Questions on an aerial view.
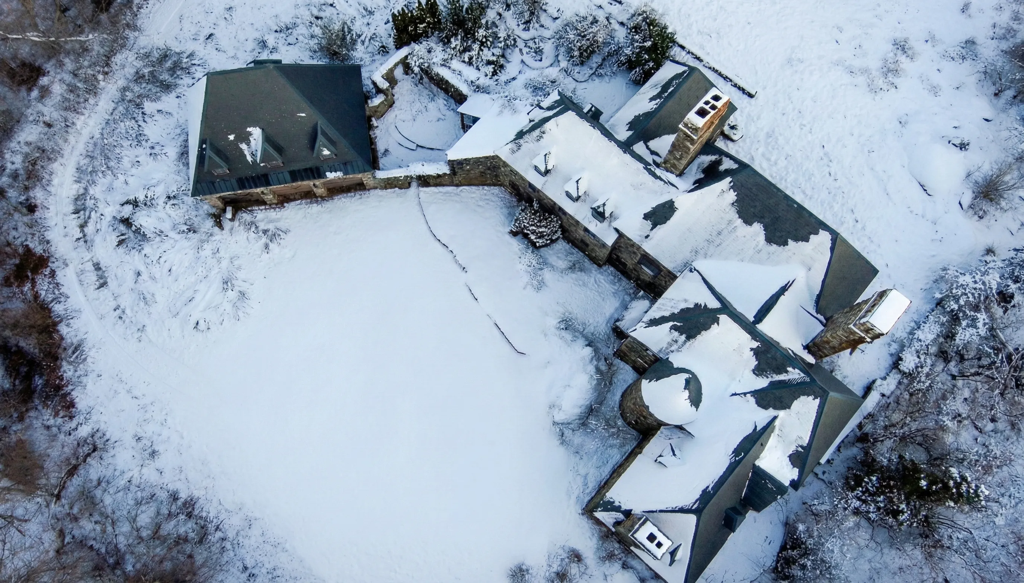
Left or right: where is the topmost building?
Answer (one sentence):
The topmost building sits on the left side.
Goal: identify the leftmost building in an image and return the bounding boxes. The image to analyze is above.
[188,51,377,211]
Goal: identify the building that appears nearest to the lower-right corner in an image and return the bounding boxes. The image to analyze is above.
[447,59,912,583]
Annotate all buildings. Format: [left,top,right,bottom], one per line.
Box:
[447,59,912,583]
[188,51,377,211]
